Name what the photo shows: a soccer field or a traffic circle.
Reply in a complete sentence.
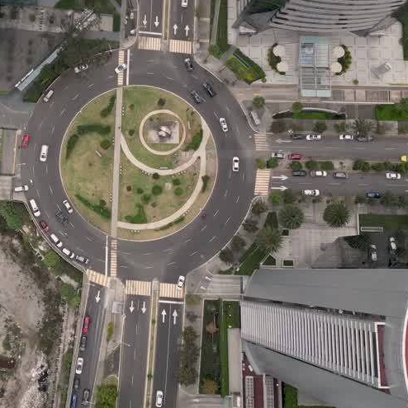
The image shows a traffic circle.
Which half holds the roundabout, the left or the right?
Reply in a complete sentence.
The roundabout appears in the left half of the scene.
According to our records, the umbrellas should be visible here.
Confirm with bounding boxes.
[276,62,287,73]
[330,63,341,74]
[332,47,343,58]
[273,46,284,58]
